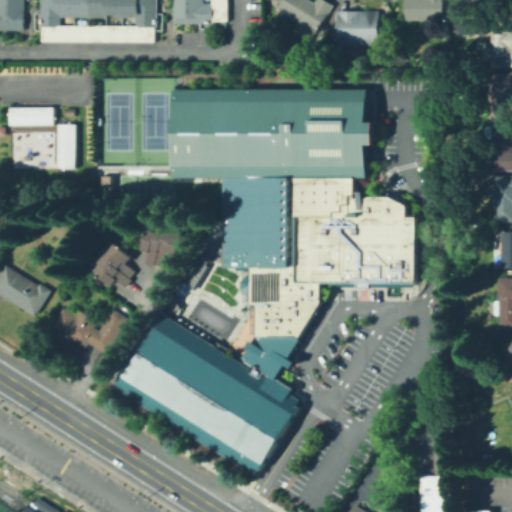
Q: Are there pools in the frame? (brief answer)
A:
Yes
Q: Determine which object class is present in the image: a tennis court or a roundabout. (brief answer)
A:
tennis court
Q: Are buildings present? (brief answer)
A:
Yes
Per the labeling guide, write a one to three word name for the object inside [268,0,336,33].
house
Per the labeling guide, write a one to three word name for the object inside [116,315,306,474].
building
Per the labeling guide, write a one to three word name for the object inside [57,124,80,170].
building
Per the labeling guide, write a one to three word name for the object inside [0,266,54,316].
house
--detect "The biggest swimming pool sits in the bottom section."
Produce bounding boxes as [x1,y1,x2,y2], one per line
[187,299,242,342]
